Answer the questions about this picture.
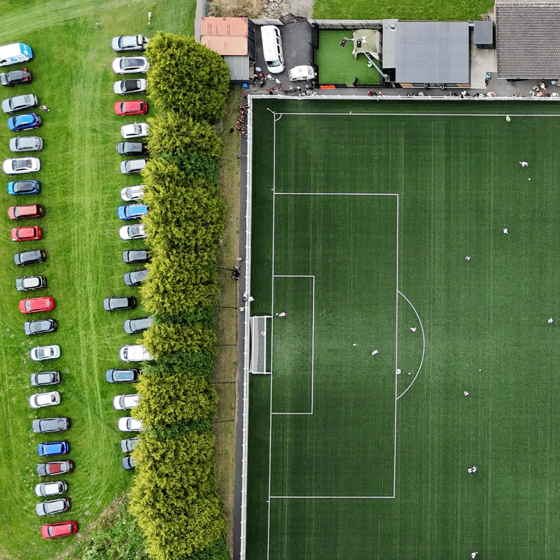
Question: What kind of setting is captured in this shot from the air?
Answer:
sports ground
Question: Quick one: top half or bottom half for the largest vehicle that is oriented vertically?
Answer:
top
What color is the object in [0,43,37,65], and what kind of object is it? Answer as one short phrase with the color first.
white vehicle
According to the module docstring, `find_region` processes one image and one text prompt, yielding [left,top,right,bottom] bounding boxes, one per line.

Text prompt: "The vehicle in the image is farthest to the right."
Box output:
[288,66,315,83]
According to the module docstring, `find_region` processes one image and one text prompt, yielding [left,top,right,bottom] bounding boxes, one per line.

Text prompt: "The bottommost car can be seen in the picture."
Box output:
[43,521,79,539]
